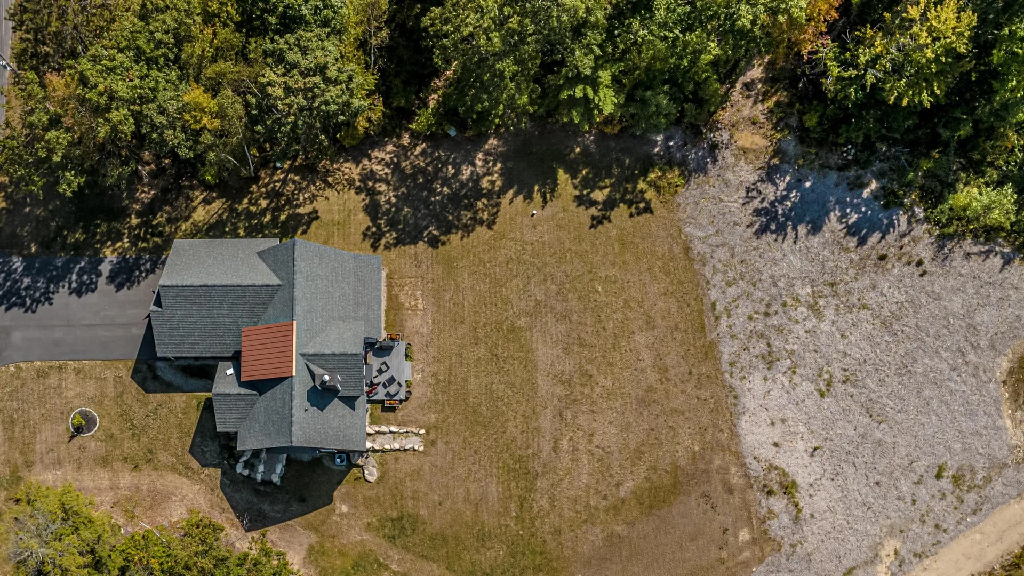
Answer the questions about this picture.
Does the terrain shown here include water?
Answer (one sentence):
No, the scene doesn't show any water.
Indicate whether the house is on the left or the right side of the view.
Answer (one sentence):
It is on the left.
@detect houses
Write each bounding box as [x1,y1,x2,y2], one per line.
[150,238,382,451]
